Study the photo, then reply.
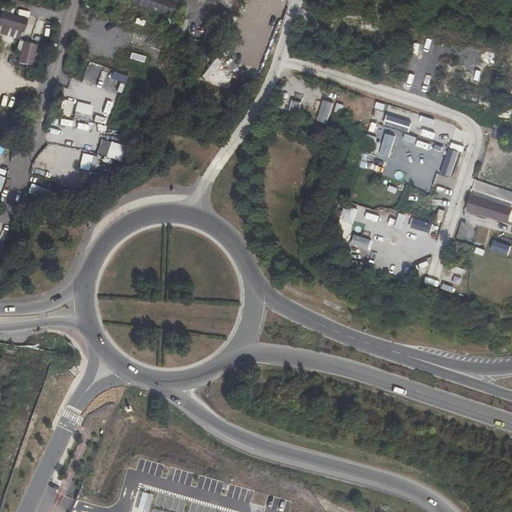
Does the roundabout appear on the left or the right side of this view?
left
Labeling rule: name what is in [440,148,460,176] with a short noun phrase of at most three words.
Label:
house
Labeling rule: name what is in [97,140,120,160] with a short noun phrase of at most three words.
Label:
house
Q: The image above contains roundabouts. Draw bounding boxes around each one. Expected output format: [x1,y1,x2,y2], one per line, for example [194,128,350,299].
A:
[75,202,265,392]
